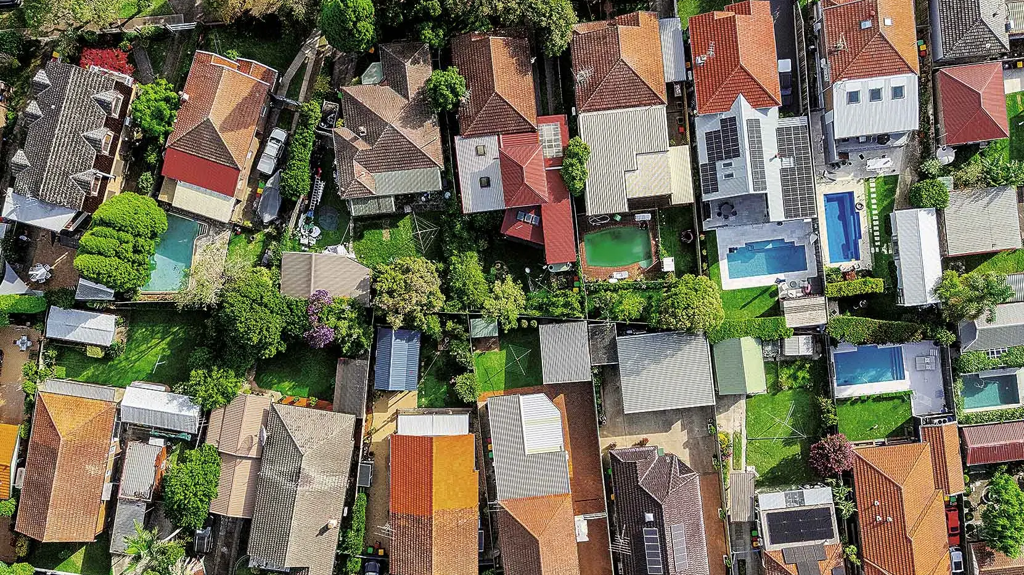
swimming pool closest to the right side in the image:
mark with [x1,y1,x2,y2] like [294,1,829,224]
[961,371,1023,412]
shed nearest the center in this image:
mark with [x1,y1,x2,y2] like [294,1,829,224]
[470,318,499,339]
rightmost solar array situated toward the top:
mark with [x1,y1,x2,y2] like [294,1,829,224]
[781,125,816,218]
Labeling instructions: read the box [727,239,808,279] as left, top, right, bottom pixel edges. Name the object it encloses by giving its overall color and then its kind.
blue swimming pool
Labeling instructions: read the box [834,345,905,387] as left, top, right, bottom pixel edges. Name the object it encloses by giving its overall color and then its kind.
blue swimming pool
